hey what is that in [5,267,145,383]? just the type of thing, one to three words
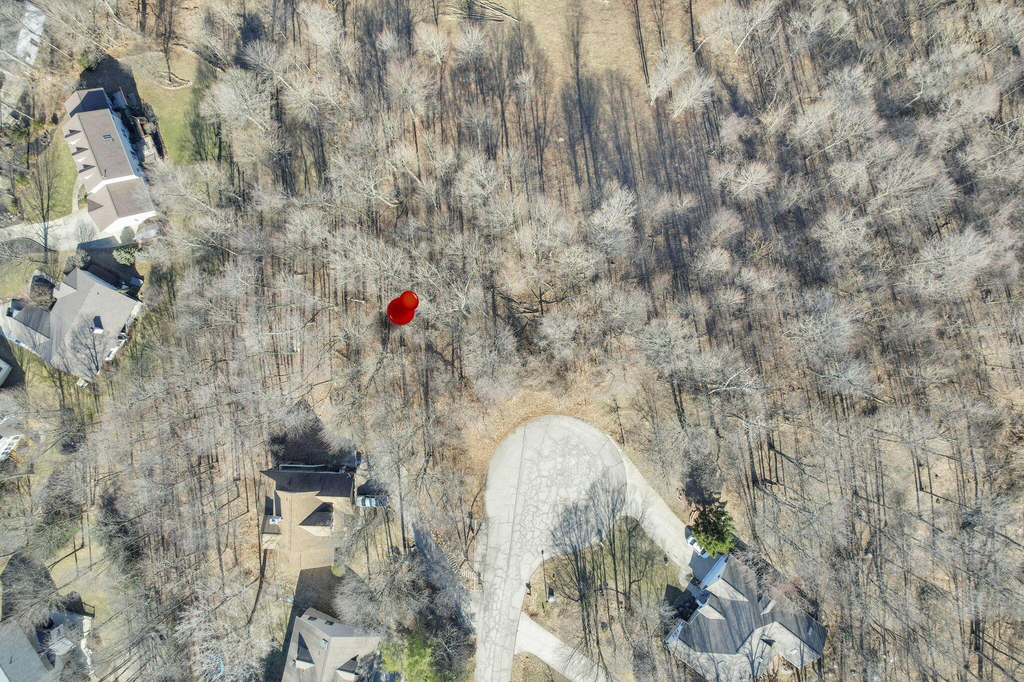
house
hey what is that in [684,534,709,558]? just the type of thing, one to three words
car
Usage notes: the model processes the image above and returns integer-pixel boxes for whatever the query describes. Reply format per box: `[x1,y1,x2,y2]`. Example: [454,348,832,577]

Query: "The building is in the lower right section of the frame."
[666,552,830,682]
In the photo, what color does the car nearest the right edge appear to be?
white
